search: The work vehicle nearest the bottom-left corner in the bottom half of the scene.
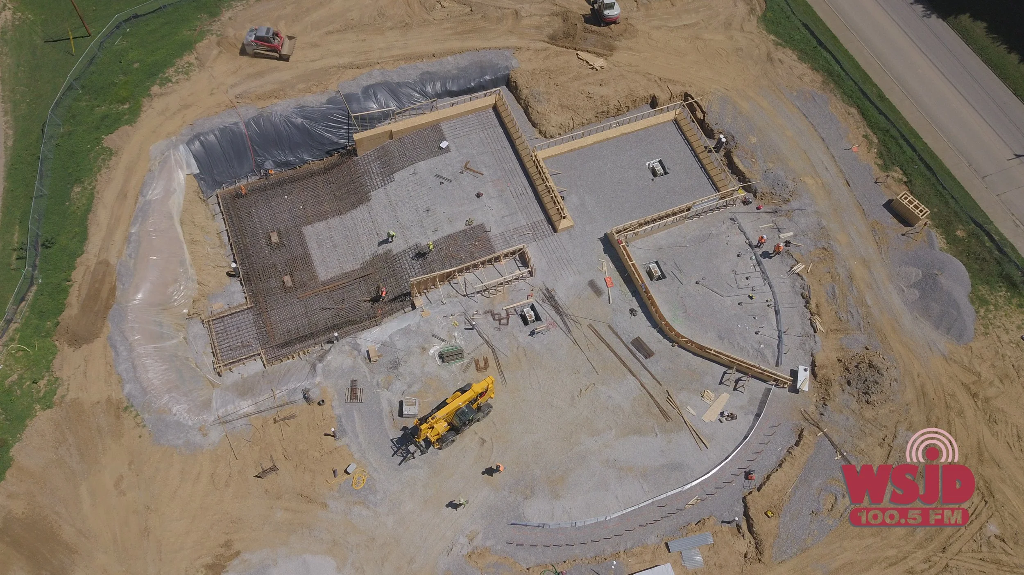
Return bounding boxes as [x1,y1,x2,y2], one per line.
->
[401,371,499,462]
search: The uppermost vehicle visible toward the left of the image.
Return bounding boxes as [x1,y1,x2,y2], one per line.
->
[244,26,304,67]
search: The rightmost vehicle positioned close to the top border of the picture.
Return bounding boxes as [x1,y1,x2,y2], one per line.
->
[597,0,623,27]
